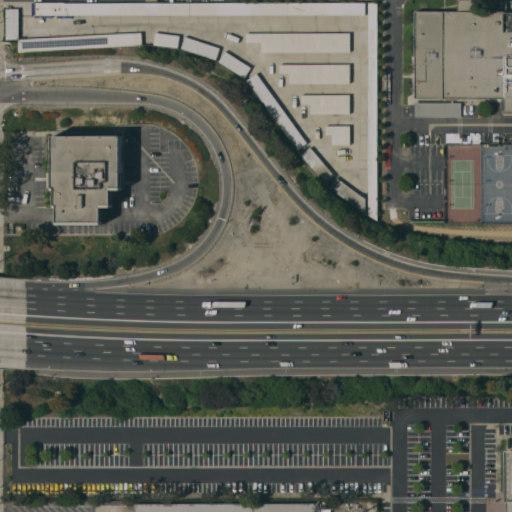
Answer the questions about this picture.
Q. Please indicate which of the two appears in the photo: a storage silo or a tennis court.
tennis court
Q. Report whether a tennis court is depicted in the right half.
Yes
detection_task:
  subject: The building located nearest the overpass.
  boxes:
[50,136,122,226]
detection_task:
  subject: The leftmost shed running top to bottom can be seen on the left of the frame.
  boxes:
[6,8,19,40]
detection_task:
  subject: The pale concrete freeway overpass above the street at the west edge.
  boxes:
[0,278,26,369]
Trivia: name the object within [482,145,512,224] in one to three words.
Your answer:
basketball court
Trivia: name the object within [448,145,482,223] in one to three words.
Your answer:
tennis court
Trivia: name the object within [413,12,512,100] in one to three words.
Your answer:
building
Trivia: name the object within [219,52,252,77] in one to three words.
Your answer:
shed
